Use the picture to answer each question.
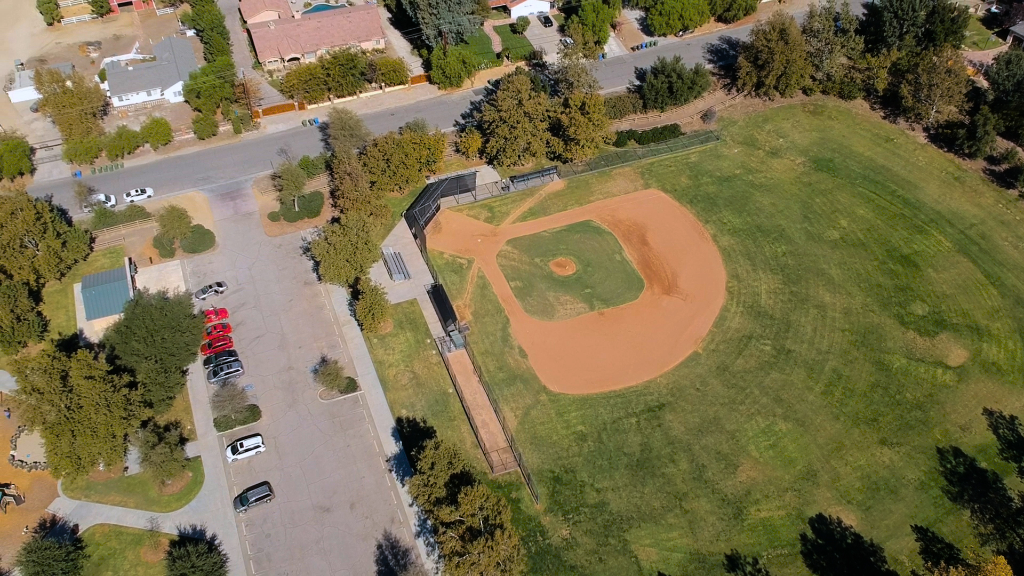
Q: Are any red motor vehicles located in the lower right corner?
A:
No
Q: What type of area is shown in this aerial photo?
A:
sports ground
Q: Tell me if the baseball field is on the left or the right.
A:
right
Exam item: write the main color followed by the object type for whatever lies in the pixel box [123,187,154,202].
white car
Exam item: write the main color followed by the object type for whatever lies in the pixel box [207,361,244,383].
gray car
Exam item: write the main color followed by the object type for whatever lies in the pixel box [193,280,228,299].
gray car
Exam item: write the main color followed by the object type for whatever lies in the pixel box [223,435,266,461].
white car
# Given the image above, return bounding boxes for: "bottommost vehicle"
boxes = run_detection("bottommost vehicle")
[231,482,276,513]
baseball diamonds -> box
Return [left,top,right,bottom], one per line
[424,105,1024,576]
